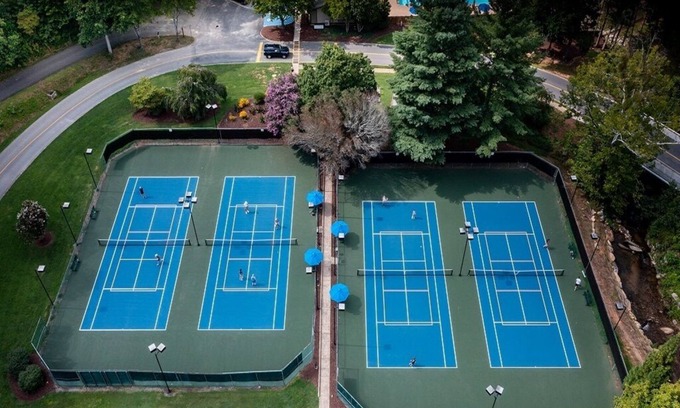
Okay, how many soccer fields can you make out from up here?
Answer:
zero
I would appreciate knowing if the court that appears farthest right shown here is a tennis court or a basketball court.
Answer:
tennis court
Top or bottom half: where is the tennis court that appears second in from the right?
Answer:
bottom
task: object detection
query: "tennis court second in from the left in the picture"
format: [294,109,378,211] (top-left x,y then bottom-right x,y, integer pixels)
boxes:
[199,177,295,330]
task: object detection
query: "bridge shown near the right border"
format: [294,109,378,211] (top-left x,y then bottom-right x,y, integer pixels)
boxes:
[605,125,680,191]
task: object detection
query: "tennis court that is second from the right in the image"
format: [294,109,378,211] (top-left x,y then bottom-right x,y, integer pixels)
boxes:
[362,201,458,368]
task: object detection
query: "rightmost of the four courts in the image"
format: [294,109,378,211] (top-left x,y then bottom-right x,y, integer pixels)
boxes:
[462,201,581,368]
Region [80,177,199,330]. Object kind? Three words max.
tennis court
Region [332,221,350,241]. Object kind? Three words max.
umbrella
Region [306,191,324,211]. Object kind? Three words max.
umbrella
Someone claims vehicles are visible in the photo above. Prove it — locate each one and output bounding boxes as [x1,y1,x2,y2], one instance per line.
[262,45,289,58]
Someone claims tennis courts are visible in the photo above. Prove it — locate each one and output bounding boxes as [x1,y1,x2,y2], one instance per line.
[362,201,458,368]
[80,177,199,330]
[199,177,295,330]
[462,201,581,368]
